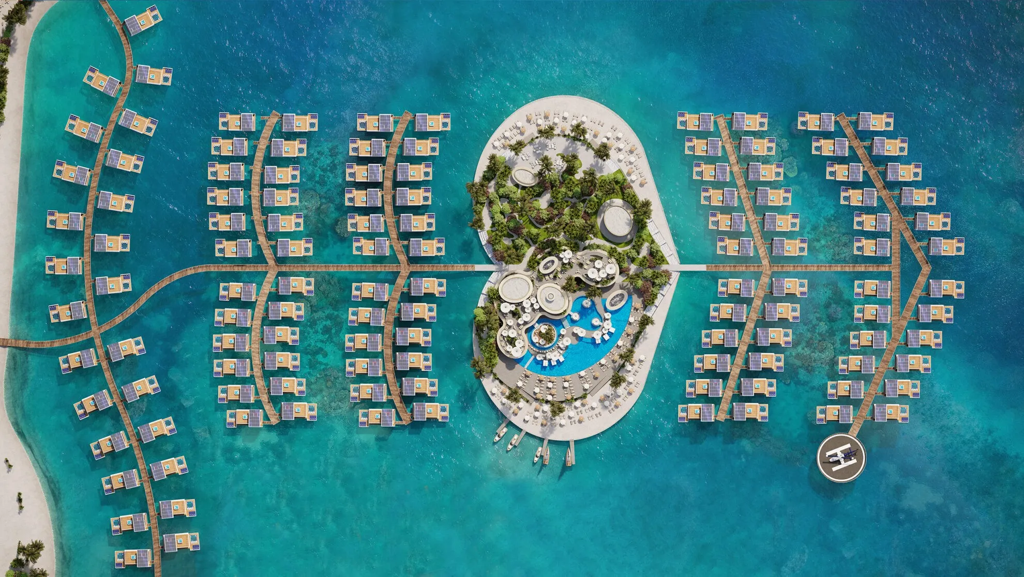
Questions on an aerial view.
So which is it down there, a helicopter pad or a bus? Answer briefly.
helicopter pad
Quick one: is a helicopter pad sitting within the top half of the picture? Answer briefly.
No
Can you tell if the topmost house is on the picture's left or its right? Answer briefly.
left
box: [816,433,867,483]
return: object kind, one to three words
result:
helipad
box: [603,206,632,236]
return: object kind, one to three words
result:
building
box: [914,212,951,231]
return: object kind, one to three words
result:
house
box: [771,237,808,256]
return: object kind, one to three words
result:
house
